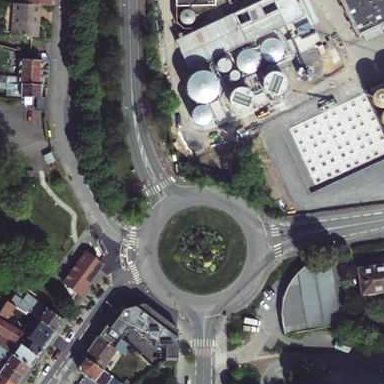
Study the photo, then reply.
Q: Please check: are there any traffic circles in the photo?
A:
Yes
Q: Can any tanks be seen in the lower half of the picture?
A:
No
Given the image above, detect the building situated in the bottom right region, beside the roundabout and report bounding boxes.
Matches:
[281,265,339,332]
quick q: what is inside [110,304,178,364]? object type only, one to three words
building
